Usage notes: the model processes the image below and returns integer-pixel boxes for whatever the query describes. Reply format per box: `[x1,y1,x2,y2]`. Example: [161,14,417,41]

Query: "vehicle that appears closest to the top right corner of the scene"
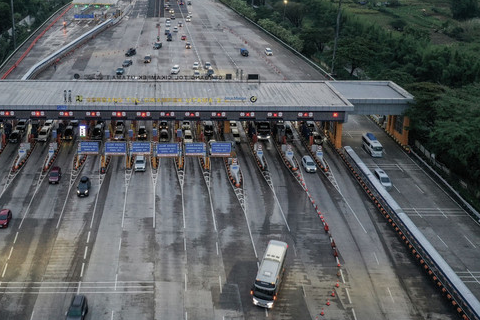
[363,134,386,156]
